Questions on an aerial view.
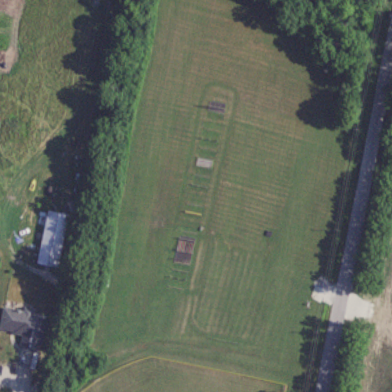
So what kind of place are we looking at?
sports ground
